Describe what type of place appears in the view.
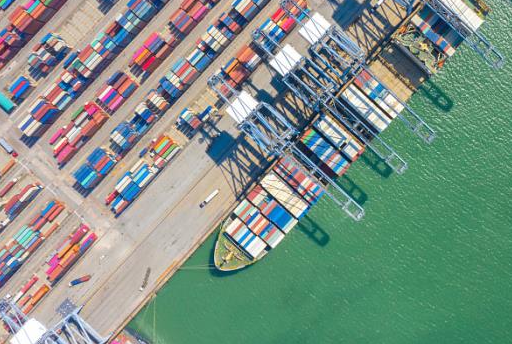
port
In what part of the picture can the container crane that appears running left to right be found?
bottom left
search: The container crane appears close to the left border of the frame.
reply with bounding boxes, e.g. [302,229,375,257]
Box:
[0,295,114,344]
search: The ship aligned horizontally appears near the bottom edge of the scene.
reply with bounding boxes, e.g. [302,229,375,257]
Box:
[109,326,152,344]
